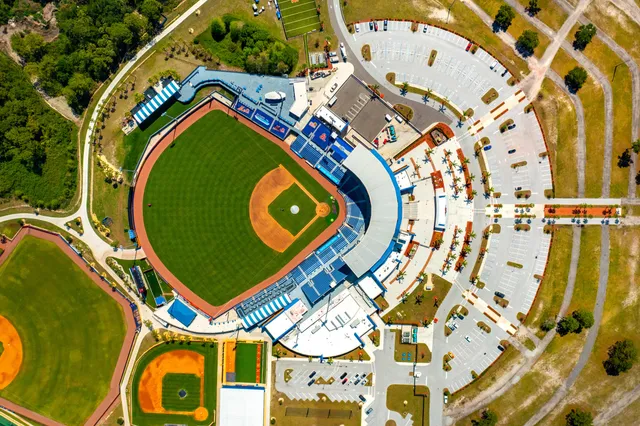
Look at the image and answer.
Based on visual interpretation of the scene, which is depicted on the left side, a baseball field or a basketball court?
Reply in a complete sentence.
The feature located on the left side is a baseball field.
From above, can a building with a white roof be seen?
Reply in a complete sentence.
Yes, the photo shows a building with a white roof.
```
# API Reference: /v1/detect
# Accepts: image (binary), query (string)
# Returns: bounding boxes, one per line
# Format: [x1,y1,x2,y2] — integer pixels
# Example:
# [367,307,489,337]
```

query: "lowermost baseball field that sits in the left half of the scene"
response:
[131,342,217,426]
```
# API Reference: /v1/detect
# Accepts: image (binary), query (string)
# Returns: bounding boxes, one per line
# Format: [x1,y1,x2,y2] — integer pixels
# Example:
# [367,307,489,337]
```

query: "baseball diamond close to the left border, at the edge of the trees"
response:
[0,225,138,426]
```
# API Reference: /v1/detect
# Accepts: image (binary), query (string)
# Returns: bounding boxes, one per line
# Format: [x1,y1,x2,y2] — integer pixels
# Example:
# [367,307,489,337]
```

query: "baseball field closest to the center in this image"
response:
[134,99,348,317]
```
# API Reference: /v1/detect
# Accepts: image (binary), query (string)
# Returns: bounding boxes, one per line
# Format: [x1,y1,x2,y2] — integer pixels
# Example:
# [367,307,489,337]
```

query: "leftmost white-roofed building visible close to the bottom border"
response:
[221,383,266,426]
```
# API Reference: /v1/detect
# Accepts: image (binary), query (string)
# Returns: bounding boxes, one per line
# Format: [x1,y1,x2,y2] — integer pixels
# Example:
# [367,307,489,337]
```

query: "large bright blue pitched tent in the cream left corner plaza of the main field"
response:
[168,297,198,327]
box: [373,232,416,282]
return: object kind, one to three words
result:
building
